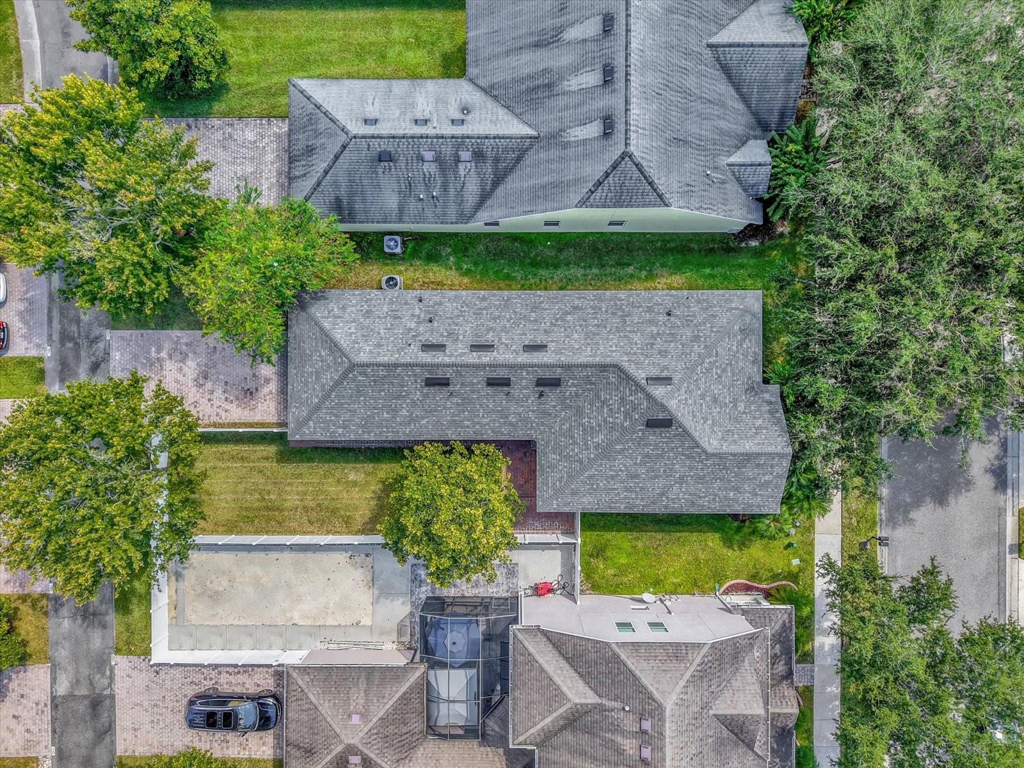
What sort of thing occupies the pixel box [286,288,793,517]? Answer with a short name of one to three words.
house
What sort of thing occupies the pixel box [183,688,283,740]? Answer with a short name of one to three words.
car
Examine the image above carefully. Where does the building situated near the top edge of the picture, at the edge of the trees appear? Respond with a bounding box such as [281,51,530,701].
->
[286,0,809,233]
